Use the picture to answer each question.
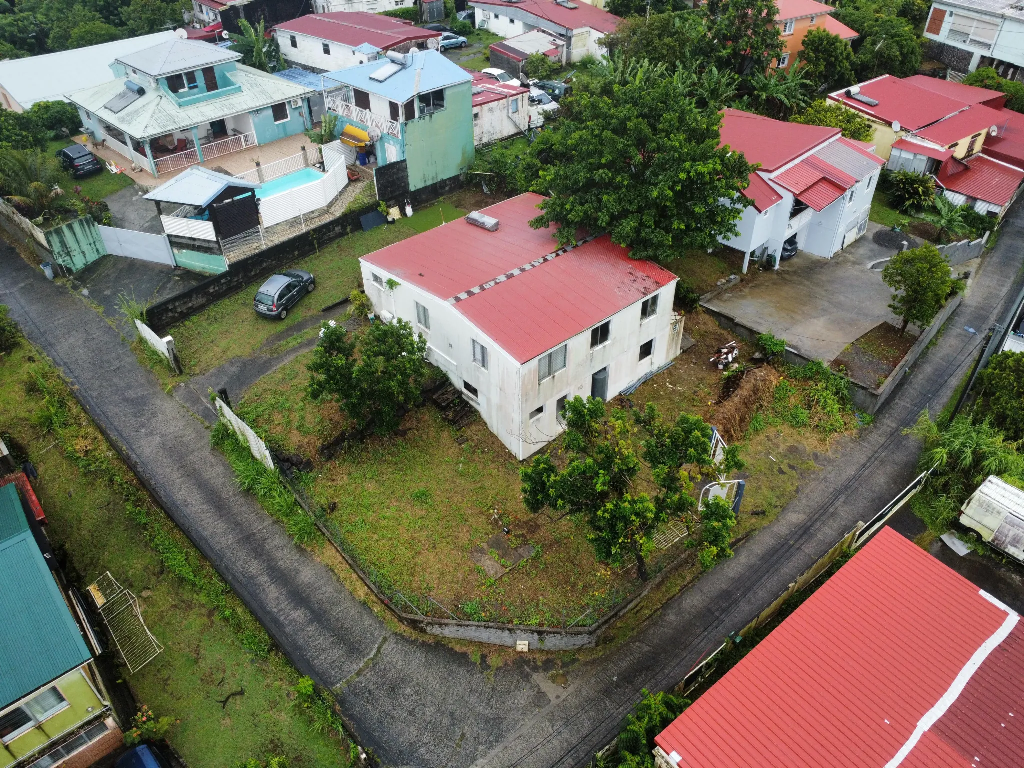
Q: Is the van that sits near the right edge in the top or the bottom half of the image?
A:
bottom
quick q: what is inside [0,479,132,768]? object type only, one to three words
house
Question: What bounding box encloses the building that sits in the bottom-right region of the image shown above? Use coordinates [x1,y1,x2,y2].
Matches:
[654,525,1024,768]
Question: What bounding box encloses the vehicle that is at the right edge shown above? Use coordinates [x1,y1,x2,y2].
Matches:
[952,468,1024,567]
